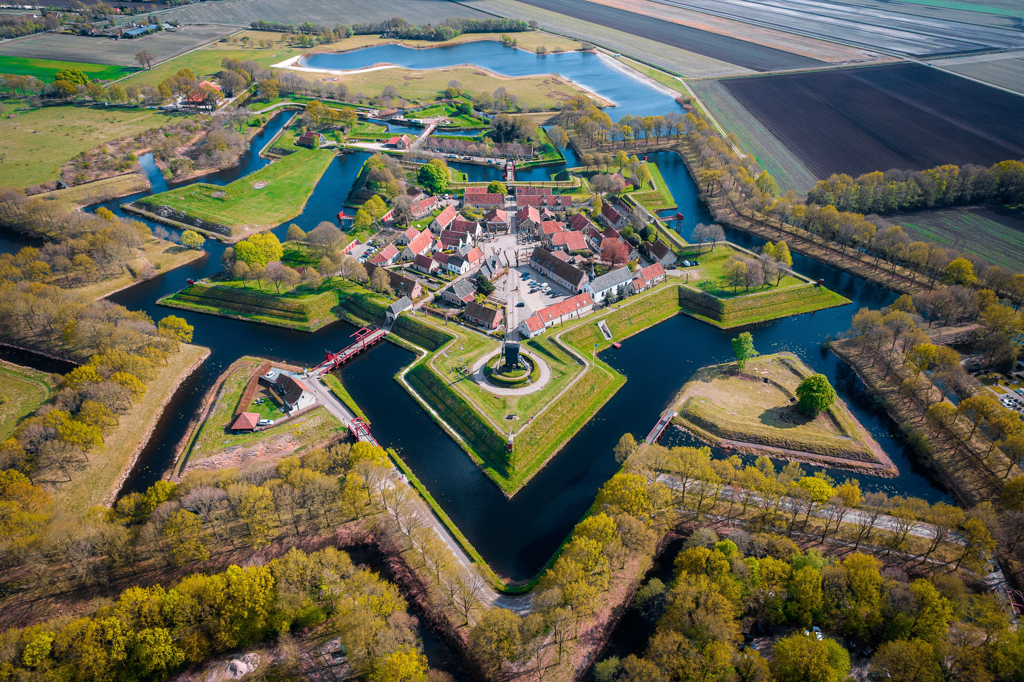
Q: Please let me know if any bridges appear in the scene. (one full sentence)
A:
Yes, the picture does show a bridge.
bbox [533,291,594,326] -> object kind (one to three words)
house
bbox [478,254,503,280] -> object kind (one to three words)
house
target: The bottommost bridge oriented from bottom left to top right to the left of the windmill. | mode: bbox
[311,325,389,374]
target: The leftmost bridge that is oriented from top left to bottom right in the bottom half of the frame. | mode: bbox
[344,410,391,455]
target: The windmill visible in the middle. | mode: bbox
[498,319,542,376]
